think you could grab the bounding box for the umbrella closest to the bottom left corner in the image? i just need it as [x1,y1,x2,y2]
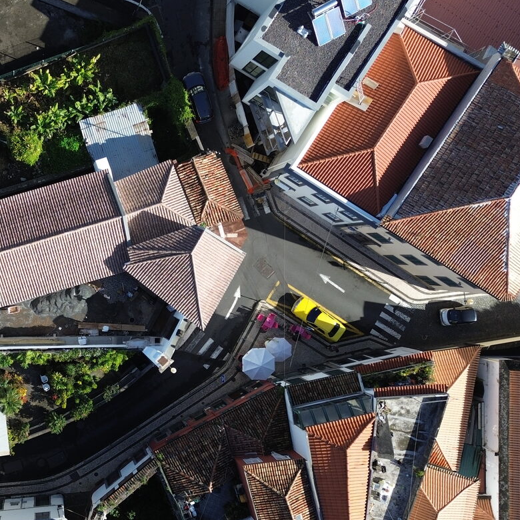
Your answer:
[241,346,273,378]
